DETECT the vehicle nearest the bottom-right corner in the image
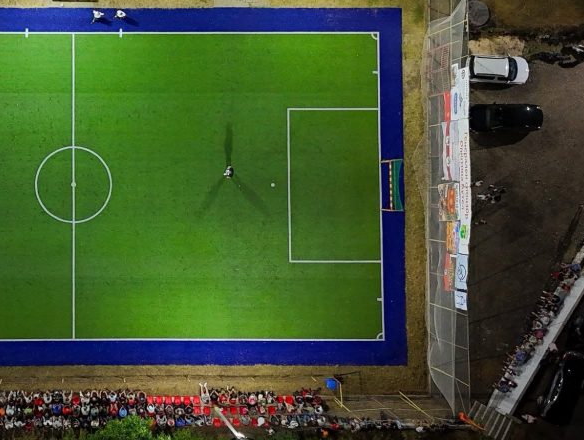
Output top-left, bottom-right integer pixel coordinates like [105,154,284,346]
[533,351,584,427]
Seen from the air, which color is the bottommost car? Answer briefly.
black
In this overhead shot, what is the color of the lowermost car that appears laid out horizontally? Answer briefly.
black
